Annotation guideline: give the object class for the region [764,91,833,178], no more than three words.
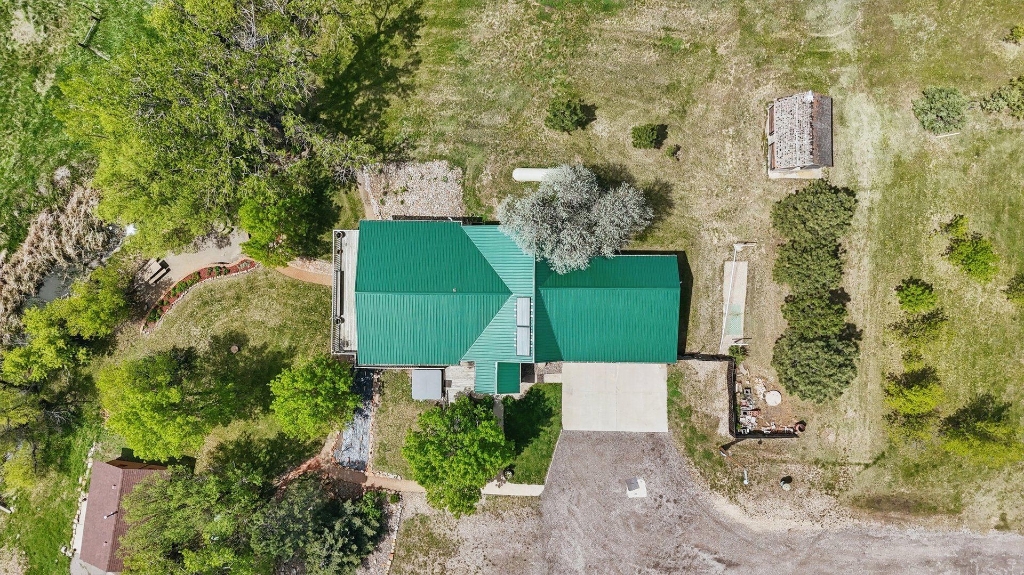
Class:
shed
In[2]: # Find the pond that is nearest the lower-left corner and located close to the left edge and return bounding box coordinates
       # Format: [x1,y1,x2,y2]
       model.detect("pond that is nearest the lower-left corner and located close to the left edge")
[7,224,139,388]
